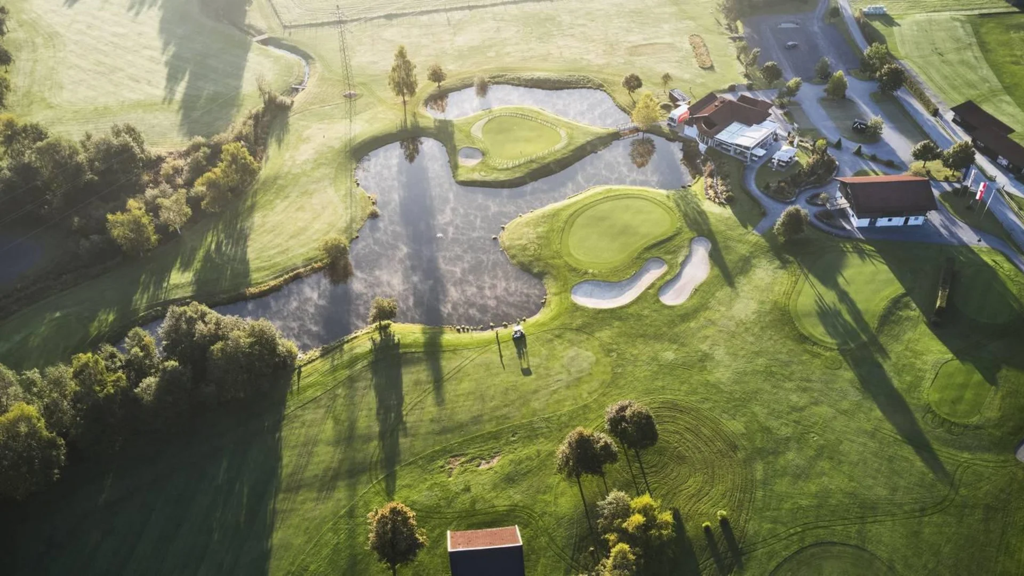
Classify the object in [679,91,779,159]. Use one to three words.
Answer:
building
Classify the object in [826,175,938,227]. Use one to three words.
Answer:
barn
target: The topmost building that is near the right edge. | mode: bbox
[950,97,1024,143]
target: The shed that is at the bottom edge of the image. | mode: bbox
[446,524,524,576]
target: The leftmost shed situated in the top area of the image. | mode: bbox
[669,88,697,106]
